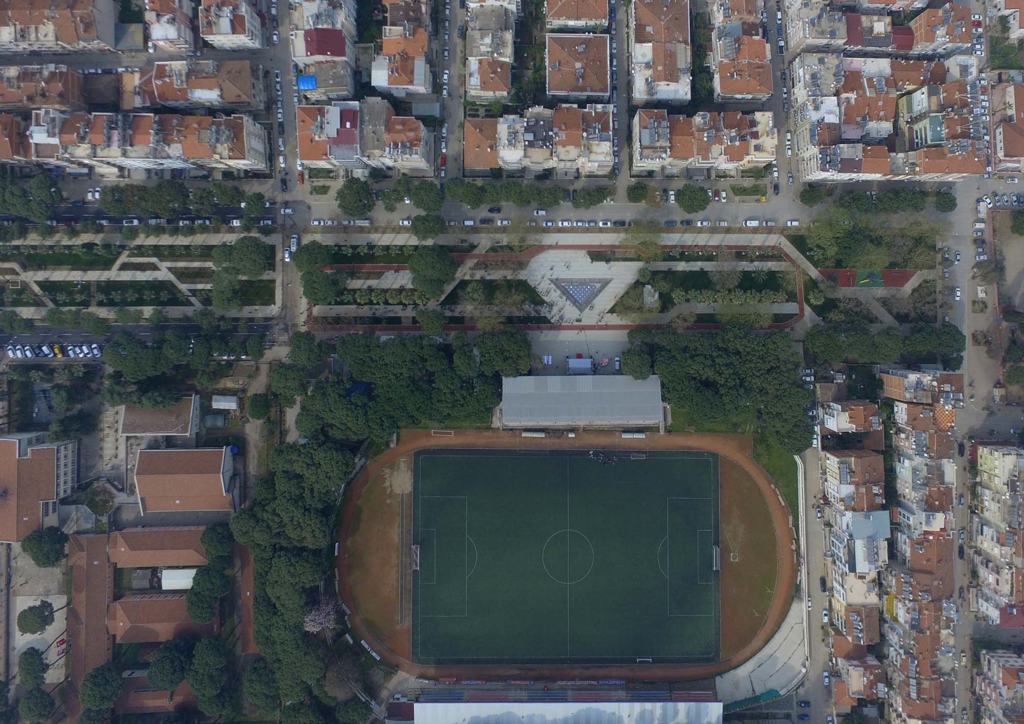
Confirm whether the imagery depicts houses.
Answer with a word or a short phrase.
Yes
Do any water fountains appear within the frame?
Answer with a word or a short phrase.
Yes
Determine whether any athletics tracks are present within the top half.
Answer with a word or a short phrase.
No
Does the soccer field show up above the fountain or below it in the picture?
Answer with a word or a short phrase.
below it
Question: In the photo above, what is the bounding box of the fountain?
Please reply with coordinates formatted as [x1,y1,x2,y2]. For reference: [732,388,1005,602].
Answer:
[549,278,613,313]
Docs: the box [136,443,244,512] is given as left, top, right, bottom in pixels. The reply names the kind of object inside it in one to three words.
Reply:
building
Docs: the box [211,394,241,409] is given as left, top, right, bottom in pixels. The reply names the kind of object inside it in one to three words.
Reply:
shed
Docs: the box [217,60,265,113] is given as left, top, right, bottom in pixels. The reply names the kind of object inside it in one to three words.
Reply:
house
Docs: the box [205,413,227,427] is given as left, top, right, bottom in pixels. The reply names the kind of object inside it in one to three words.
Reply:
shed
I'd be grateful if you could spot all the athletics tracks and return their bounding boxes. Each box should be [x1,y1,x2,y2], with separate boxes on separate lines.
[336,431,797,680]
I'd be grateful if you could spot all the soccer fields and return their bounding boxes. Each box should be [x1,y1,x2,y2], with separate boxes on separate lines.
[413,450,719,664]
